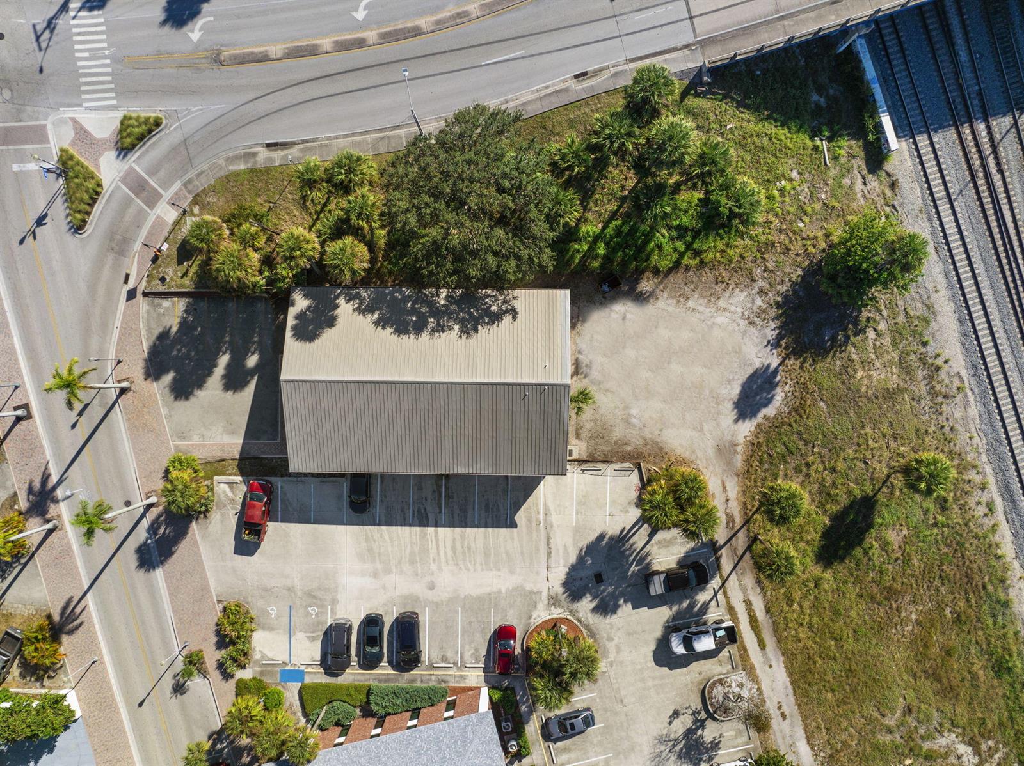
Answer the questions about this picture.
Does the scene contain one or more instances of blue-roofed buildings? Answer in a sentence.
No, there is no blue-roofed building in the image.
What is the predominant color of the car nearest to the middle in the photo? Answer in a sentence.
The color of the car nearest to the middle is black.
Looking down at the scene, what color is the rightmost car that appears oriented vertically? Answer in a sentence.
From above, the rightmost car that appears oriented vertically appears red.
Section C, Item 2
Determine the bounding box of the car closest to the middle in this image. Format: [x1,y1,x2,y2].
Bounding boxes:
[347,476,372,514]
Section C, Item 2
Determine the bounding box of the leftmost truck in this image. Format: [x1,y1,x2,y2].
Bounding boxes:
[0,624,29,689]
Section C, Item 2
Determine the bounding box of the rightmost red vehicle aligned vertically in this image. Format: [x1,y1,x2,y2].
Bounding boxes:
[493,623,517,675]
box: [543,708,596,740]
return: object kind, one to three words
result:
car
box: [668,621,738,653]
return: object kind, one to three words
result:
truck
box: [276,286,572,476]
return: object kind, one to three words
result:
building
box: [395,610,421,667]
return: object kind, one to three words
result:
car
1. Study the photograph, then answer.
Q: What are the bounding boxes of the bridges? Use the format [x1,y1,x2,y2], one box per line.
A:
[686,0,948,82]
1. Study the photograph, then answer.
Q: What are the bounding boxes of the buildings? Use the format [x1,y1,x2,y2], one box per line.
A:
[276,286,572,476]
[205,686,511,766]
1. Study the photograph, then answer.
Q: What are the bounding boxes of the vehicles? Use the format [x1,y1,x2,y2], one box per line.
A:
[395,610,421,667]
[347,476,372,514]
[0,624,29,689]
[543,708,596,740]
[668,621,738,653]
[360,612,385,666]
[642,562,709,595]
[493,623,517,675]
[240,479,273,544]
[327,617,353,670]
